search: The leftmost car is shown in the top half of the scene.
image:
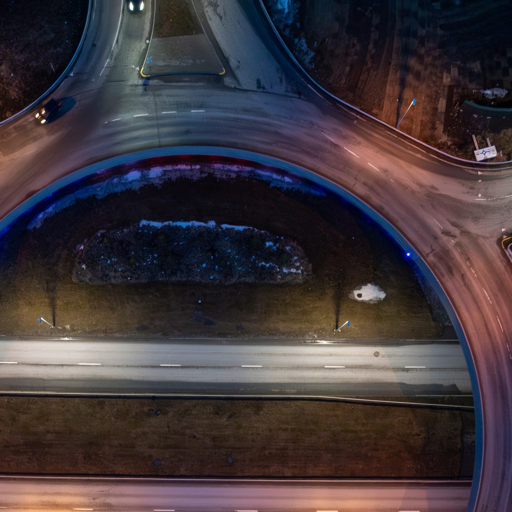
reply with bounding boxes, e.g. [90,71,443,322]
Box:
[34,94,64,125]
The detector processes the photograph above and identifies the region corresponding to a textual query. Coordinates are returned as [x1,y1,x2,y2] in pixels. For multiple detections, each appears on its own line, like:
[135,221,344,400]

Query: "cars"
[34,94,64,125]
[129,0,143,10]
